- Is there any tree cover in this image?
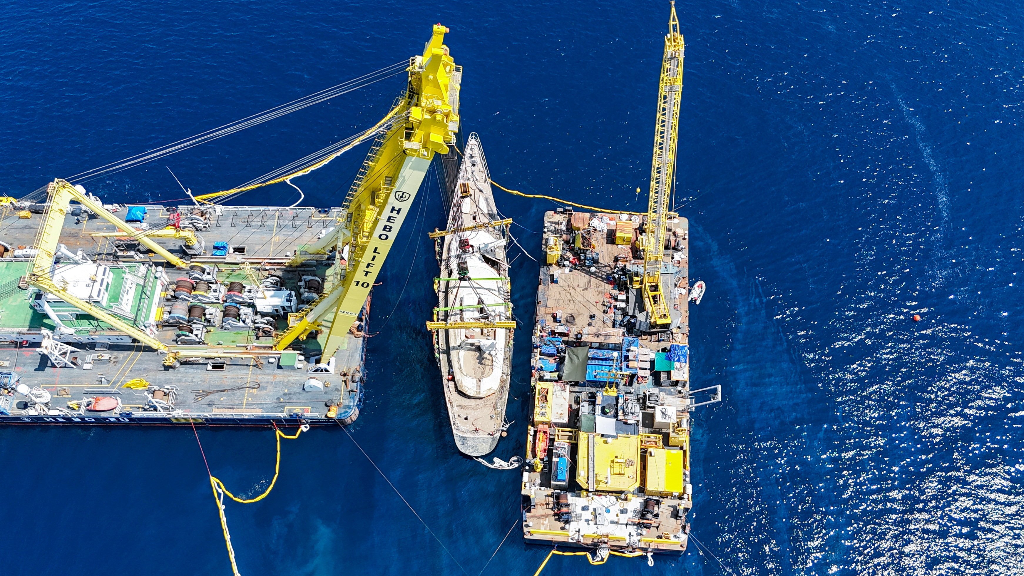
No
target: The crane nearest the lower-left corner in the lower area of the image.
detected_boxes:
[156,349,264,369]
